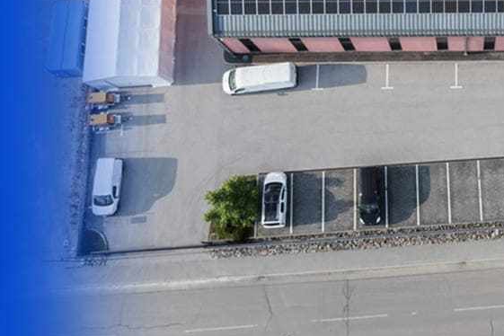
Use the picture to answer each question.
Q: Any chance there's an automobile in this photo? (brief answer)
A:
Yes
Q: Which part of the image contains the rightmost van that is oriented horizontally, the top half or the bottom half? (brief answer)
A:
top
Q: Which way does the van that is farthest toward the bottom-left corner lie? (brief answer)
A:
vertically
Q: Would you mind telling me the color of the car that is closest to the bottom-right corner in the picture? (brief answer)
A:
black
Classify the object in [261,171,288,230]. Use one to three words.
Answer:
car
